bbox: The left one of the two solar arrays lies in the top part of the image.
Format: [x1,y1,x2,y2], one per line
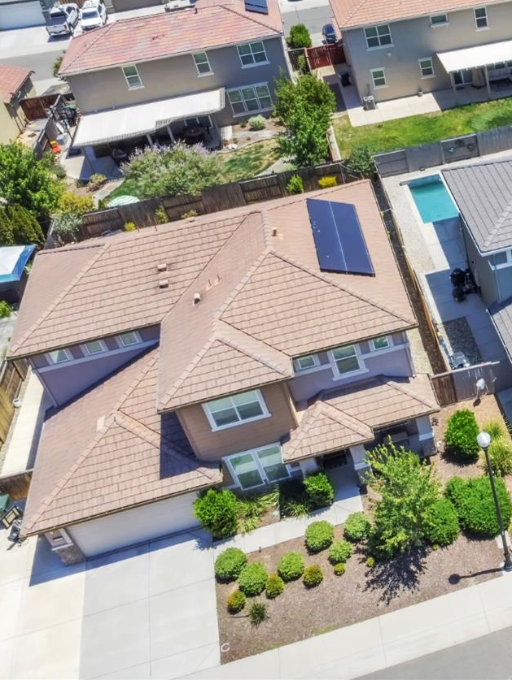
[245,0,269,17]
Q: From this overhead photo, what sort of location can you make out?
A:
residential area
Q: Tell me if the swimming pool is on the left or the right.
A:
right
